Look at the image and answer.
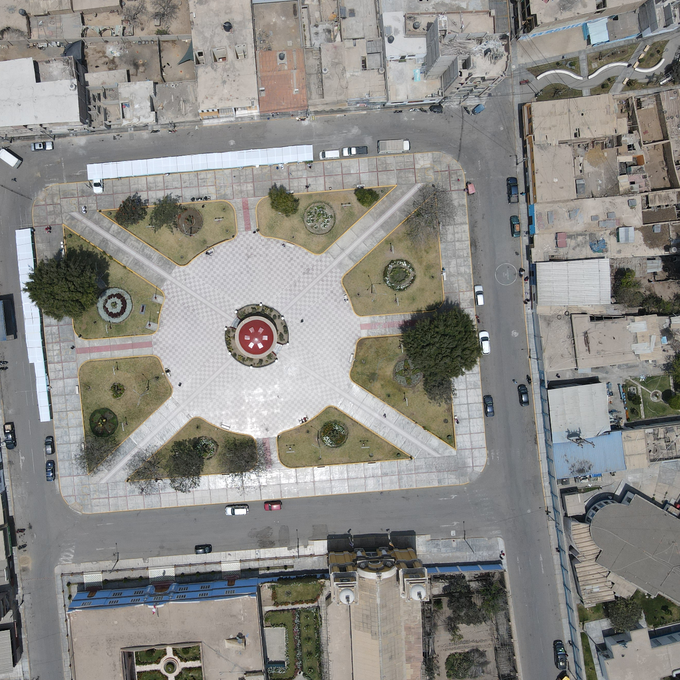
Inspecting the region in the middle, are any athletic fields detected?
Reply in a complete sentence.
No, in the middle there is no athletic field.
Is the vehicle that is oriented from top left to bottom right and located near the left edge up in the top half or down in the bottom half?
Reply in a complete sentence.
The top half of the photo is where the vehicle that is oriented from top left to bottom right and located near the left edge is.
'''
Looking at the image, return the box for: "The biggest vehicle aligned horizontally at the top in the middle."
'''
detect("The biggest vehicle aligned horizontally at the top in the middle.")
[377,138,410,153]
